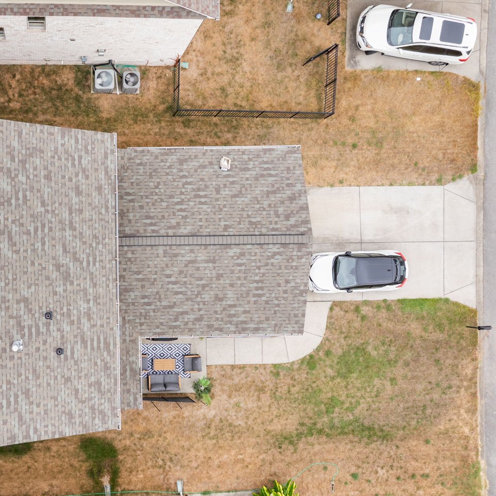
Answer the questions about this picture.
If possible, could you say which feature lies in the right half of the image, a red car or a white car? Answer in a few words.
white car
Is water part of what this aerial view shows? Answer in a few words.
No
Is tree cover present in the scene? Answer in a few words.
No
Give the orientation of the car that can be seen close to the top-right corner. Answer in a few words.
from side to side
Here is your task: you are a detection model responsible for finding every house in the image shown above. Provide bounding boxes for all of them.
[0,0,223,65]
[0,118,314,446]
